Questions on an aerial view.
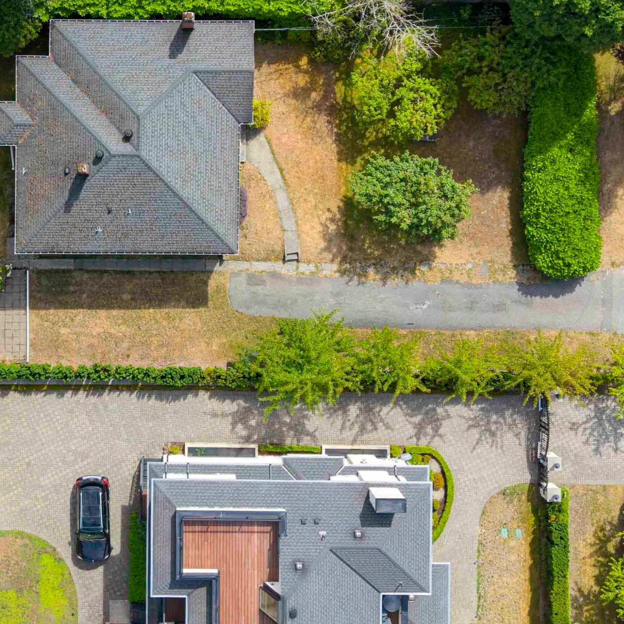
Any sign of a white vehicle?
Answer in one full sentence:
No, I can't see a single white vehicle in this photo.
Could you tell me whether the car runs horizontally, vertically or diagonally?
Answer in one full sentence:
The car has been laid out vertically relative to the frame.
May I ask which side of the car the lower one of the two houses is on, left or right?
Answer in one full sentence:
It is on the right side of the car that the lower one of the two houses is positioned.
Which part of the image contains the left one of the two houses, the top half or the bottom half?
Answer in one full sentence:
The top half of the photo is where the left one of the two houses is.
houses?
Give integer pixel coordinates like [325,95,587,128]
[140,443,454,624]
[0,9,258,257]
